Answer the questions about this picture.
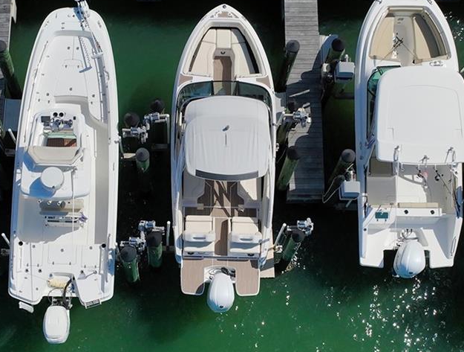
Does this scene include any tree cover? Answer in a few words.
No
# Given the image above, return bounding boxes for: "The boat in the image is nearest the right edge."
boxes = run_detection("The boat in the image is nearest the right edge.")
[353,0,464,280]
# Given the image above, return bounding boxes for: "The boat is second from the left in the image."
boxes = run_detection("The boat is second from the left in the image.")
[169,2,277,313]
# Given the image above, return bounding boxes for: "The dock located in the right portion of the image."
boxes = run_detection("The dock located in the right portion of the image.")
[284,0,324,203]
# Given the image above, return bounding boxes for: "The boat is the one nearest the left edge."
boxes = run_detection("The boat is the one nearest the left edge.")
[7,0,121,344]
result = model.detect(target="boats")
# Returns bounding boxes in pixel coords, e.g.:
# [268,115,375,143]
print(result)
[353,0,464,280]
[7,0,121,344]
[169,2,277,313]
